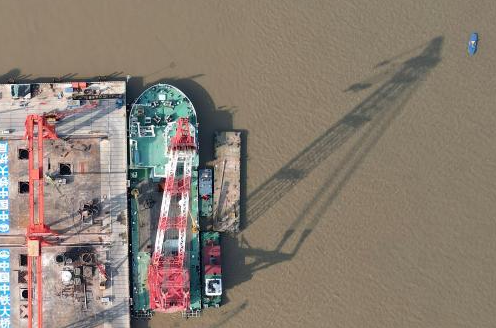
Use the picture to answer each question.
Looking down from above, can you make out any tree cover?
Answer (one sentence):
No, no tree cover is visible.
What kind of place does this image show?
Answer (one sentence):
This looks like a port.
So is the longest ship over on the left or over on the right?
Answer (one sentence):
It is on the left.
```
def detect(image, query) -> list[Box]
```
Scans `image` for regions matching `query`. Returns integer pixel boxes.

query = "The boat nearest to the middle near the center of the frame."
[198,166,216,217]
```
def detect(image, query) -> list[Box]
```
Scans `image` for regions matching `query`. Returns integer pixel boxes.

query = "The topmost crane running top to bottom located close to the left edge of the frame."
[22,115,60,237]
